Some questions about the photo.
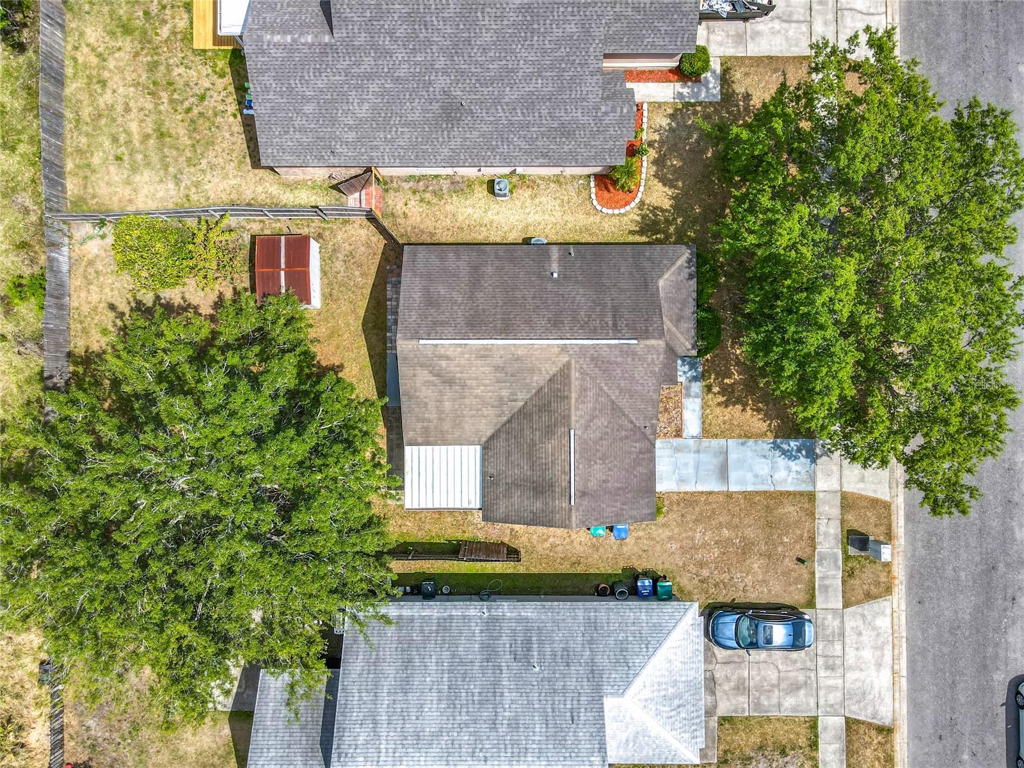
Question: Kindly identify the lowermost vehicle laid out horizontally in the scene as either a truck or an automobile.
automobile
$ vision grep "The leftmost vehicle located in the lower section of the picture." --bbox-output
[705,607,818,660]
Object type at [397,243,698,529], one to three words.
house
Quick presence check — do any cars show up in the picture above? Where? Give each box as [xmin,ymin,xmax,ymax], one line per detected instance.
[705,607,818,660]
[1015,682,1024,768]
